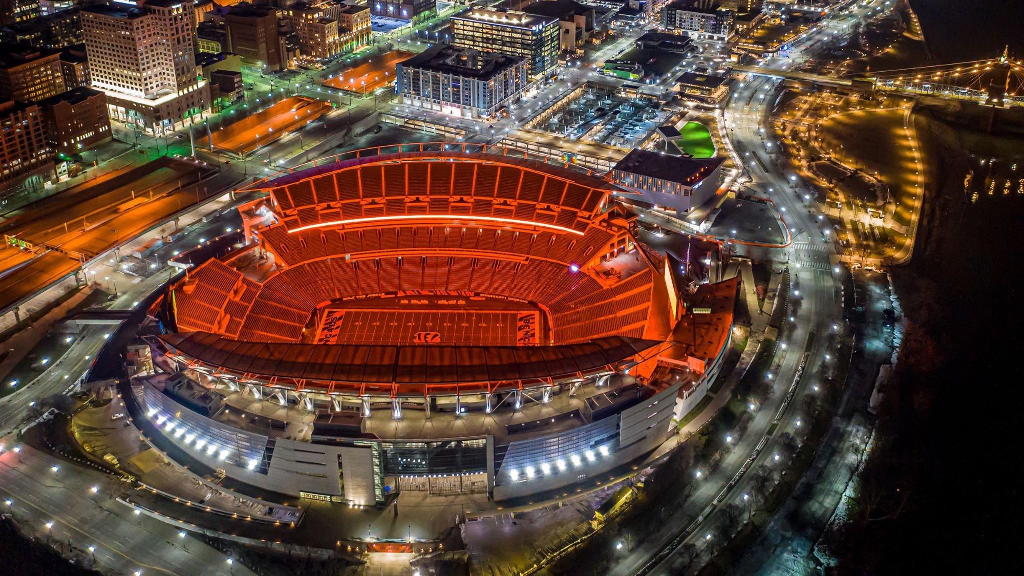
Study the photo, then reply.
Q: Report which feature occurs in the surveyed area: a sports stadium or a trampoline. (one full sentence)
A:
Visible in the photo is a sports stadium.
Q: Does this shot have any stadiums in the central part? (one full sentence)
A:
Yes, there is a stadium in the central part.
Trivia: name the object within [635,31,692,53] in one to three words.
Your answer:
building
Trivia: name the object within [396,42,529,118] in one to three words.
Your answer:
building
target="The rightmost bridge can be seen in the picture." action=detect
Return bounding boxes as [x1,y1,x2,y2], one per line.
[731,16,1024,113]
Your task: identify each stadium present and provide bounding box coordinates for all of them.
[132,142,740,507]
